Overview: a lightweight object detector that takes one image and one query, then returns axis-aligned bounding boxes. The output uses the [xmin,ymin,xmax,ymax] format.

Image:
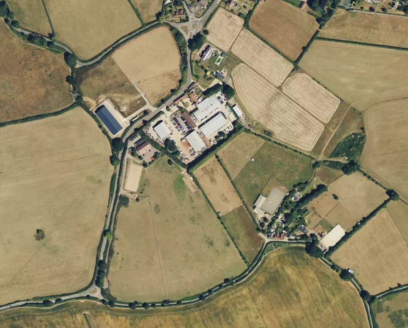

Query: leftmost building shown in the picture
[95,104,123,135]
